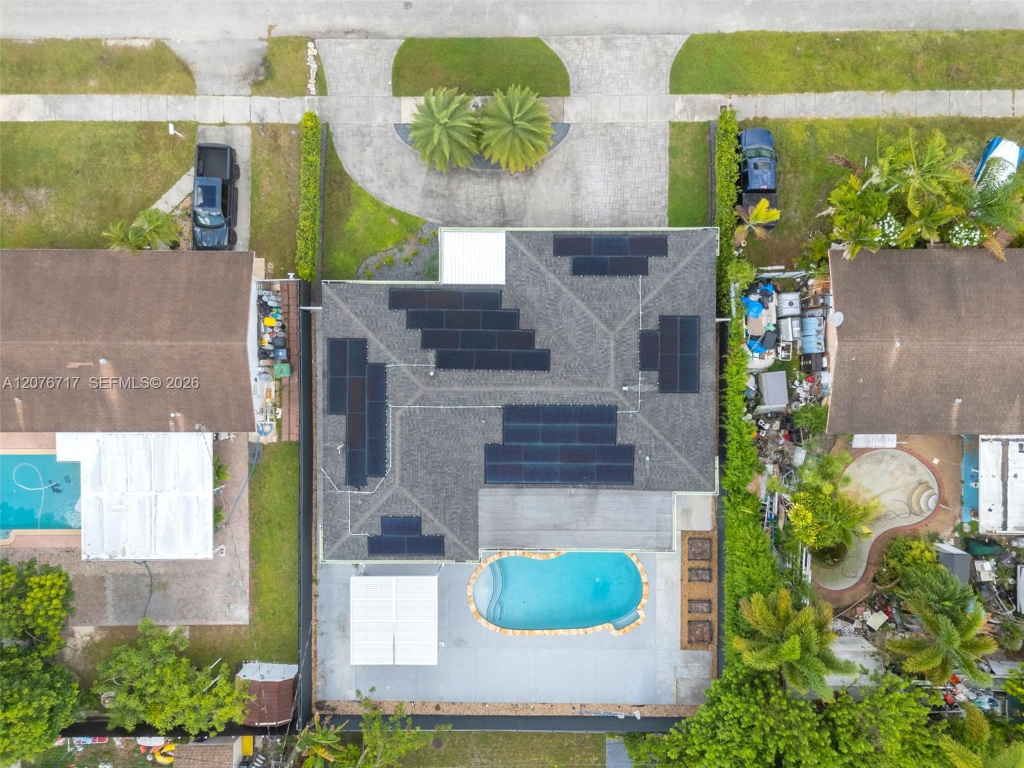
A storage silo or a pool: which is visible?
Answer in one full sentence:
The image shows a pool.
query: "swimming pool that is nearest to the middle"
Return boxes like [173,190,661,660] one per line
[467,552,649,638]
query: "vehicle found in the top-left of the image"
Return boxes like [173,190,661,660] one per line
[190,144,244,250]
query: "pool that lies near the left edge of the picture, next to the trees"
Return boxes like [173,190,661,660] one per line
[0,454,80,540]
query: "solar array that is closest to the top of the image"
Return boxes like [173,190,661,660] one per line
[554,236,668,277]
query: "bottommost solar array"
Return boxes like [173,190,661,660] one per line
[368,515,444,556]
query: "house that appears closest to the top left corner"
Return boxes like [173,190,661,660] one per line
[0,250,261,433]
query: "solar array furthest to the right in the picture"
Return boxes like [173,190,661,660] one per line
[638,316,699,393]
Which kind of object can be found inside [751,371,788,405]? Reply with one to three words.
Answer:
shed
